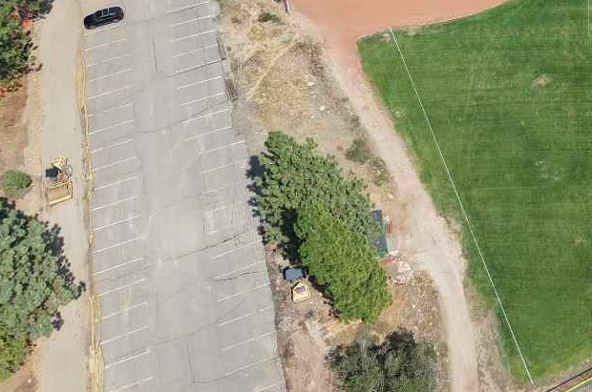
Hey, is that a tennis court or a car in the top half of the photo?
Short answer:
car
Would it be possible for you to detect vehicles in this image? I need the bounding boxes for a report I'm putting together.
[80,2,125,30]
[279,257,309,304]
[41,158,72,211]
